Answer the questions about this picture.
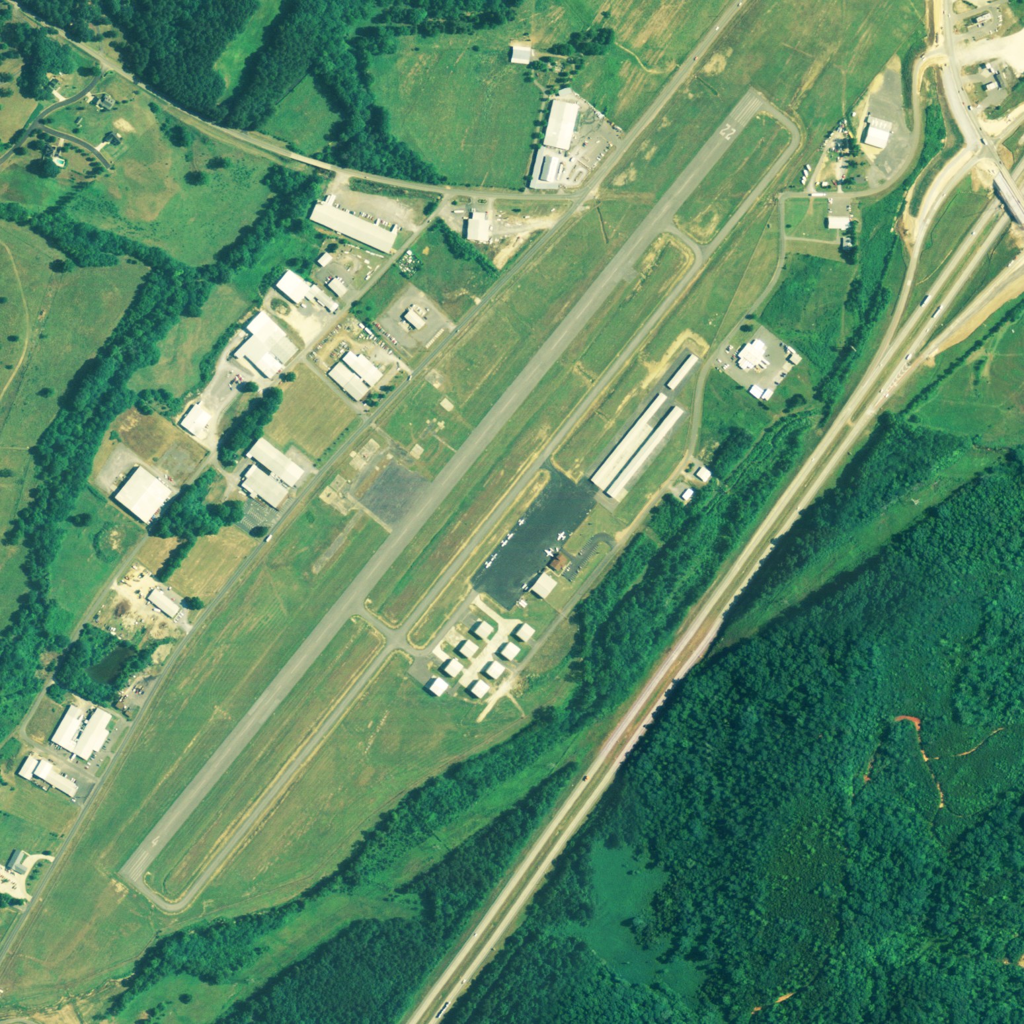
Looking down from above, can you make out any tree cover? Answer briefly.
Yes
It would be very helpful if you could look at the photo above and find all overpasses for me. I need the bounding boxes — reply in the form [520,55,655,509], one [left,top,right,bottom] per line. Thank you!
[992,161,1024,228]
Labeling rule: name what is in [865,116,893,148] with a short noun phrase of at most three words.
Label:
building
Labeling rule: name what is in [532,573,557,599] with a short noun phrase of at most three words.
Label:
hangar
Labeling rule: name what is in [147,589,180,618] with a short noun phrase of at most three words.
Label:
building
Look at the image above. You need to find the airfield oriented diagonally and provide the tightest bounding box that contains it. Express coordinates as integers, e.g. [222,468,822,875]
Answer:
[119,87,799,909]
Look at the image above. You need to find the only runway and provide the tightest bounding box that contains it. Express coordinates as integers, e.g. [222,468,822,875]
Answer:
[119,87,766,885]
